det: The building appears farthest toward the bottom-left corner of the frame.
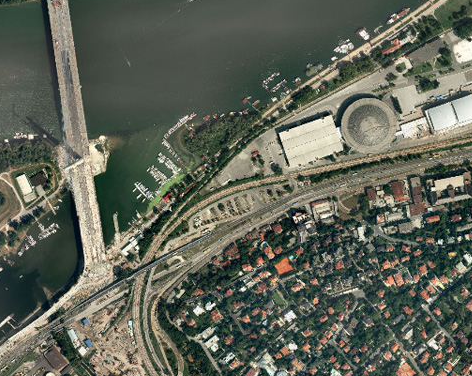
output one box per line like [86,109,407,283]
[44,345,70,371]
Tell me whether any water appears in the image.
Yes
